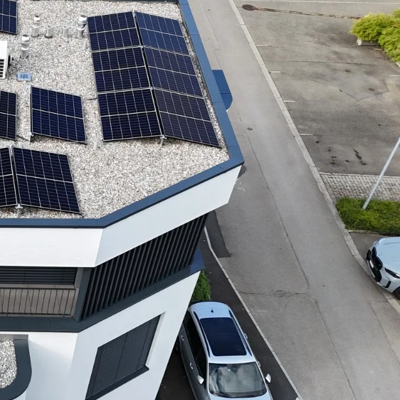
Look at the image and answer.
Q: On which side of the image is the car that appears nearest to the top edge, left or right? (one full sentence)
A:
The car that appears nearest to the top edge appears in the right half of the scene.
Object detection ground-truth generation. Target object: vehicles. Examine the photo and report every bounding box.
[175,302,270,400]
[361,236,400,295]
